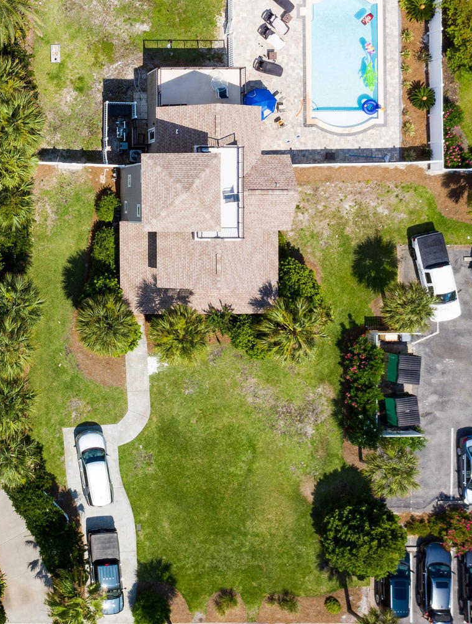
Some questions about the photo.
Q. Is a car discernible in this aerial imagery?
Yes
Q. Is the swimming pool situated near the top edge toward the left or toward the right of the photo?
right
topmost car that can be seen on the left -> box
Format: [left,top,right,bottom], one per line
[71,423,115,508]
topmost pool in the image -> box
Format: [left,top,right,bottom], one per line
[296,0,387,136]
